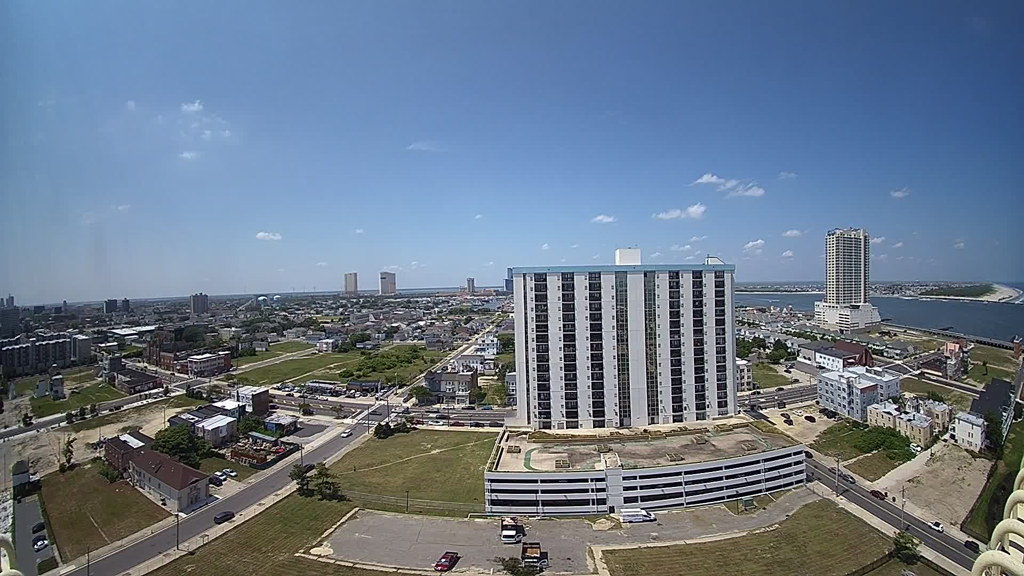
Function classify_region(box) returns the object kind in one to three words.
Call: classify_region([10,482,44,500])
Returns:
shed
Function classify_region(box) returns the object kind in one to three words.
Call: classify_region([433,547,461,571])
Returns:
truck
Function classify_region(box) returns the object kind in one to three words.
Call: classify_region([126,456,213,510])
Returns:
house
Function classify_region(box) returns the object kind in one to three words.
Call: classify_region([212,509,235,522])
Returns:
vehicle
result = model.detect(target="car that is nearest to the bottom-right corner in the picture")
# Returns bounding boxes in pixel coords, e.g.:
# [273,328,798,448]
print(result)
[959,535,985,550]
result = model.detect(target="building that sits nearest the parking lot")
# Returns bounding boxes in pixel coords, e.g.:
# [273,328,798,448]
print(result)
[484,416,805,516]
